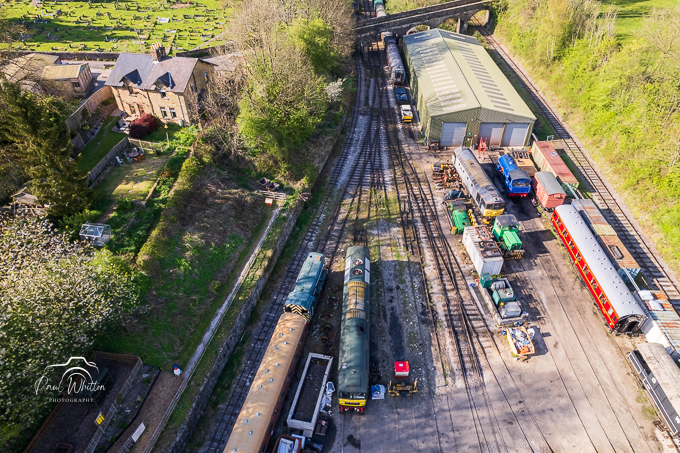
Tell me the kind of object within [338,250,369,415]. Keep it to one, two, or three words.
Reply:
rail car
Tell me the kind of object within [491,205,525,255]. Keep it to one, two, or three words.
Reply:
rail car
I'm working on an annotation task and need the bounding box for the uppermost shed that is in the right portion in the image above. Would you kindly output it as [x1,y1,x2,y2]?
[402,29,543,149]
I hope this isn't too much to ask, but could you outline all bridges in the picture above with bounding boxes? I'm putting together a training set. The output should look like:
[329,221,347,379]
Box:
[339,0,517,48]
